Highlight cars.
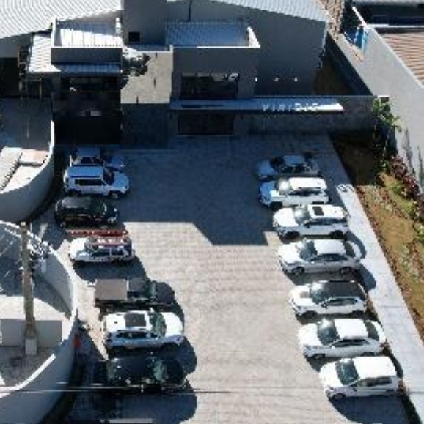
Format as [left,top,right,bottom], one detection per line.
[317,357,407,400]
[287,276,374,318]
[102,309,186,354]
[92,271,180,312]
[258,176,329,209]
[54,197,121,232]
[254,152,322,178]
[67,229,138,265]
[280,242,362,276]
[71,144,125,171]
[295,319,390,360]
[99,351,187,397]
[274,203,350,239]
[66,165,127,198]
